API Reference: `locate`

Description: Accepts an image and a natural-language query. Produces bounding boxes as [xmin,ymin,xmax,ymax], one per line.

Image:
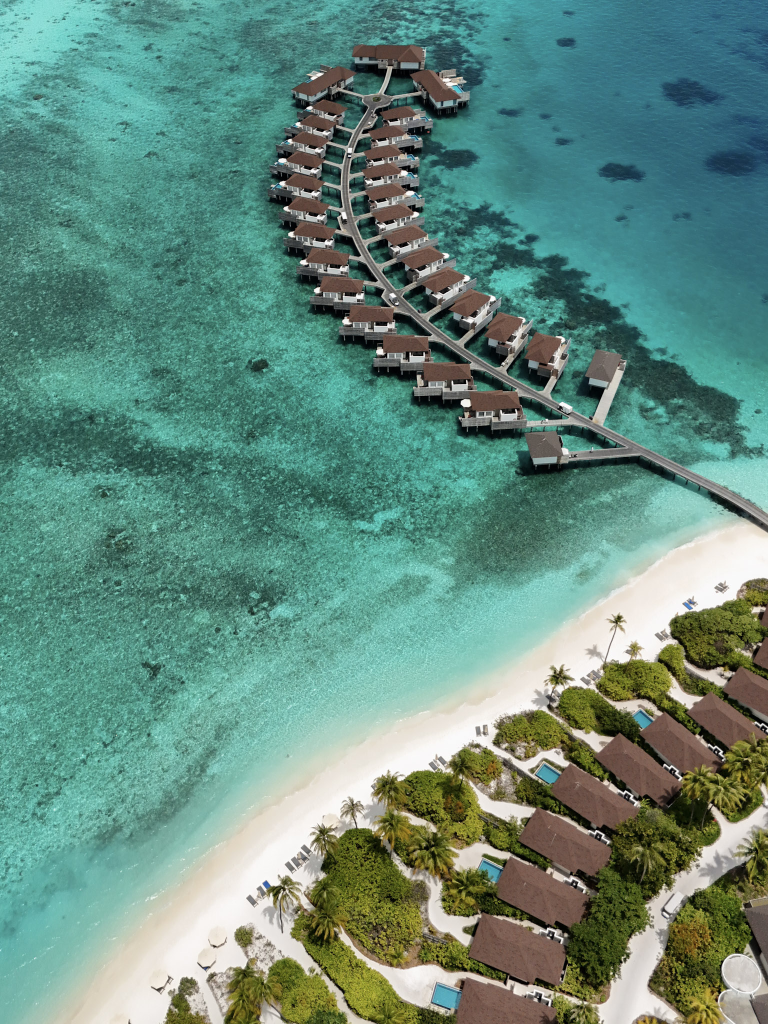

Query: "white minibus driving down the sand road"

[661,889,687,921]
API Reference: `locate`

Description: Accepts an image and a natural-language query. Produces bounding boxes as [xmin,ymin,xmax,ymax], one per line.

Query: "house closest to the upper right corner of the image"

[409,67,471,122]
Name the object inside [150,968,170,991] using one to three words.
umbrella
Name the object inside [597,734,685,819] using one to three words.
house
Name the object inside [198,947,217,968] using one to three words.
umbrella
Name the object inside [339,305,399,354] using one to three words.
house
